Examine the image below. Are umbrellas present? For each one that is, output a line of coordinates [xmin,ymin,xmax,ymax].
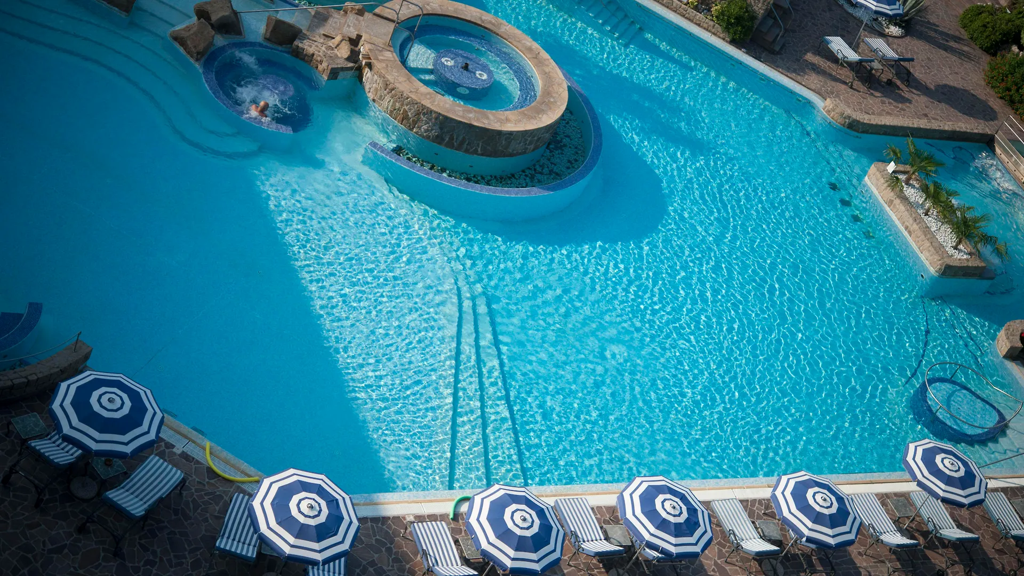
[463,483,566,576]
[616,476,714,576]
[247,468,361,576]
[843,0,904,49]
[766,471,862,576]
[46,371,166,498]
[896,439,987,537]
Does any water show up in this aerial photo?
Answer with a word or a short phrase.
Yes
